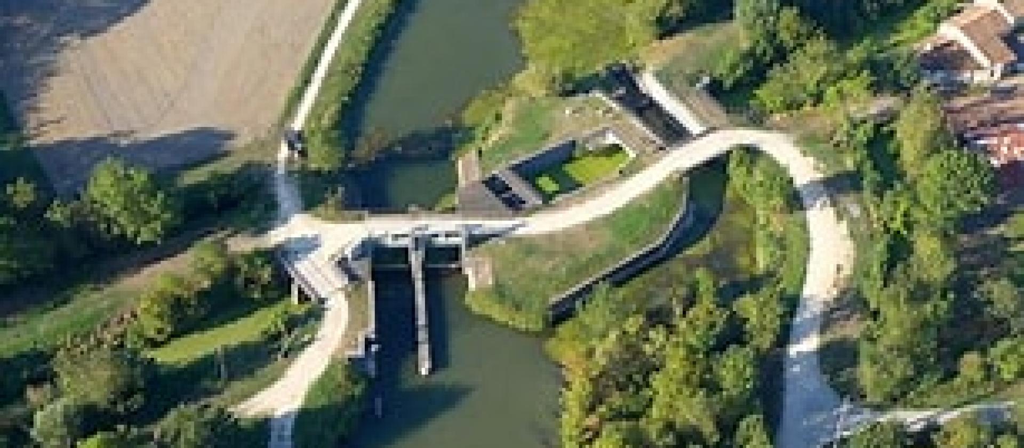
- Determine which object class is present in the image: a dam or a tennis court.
dam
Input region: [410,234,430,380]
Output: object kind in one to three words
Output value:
pier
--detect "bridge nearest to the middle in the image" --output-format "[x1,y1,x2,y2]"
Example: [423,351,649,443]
[368,216,471,244]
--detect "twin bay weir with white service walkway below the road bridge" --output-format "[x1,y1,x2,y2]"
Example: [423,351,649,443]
[372,231,465,289]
